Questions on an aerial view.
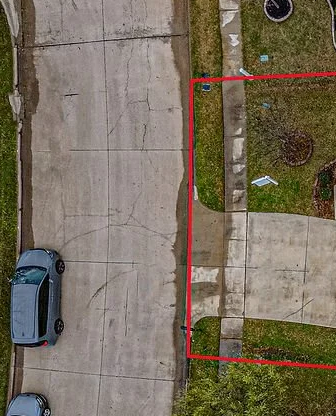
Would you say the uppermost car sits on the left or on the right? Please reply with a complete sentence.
The uppermost car appears in the left half of the scene.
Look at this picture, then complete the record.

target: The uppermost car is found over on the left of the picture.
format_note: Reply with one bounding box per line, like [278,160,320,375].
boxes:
[12,247,67,346]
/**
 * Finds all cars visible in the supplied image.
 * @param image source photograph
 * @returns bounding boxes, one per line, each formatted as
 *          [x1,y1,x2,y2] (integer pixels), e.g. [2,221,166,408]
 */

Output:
[12,247,67,346]
[6,389,53,416]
